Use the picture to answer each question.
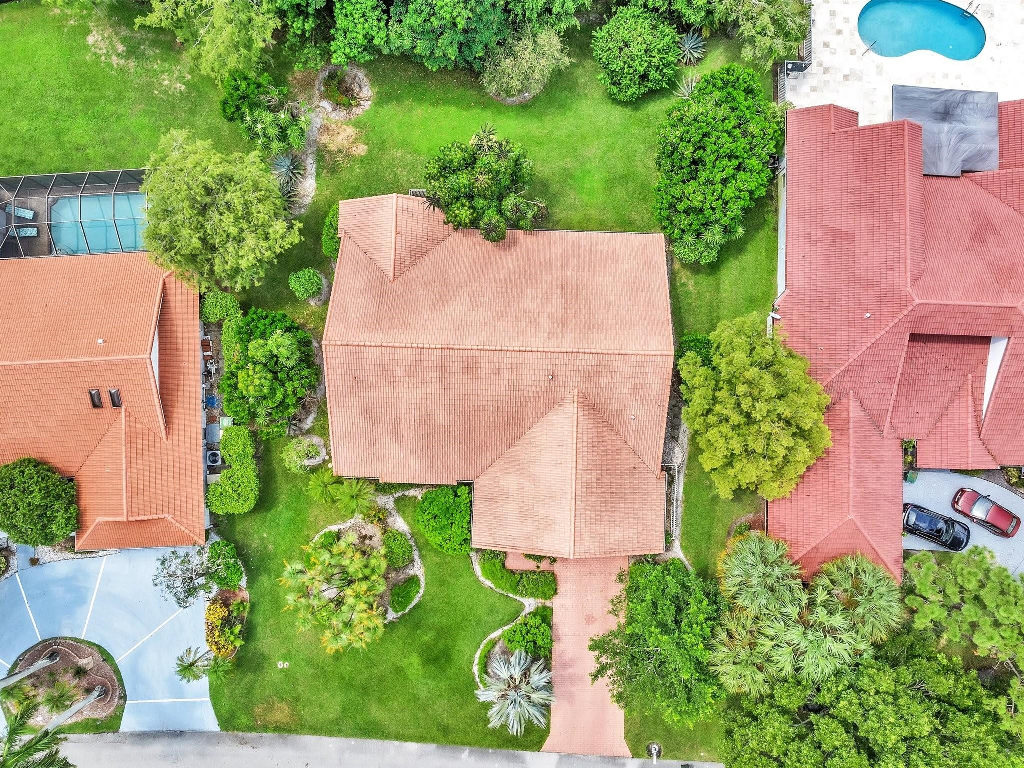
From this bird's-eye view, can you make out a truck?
No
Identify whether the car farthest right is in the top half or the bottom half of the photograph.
bottom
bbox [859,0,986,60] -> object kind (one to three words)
swimming pool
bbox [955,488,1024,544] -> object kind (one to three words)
car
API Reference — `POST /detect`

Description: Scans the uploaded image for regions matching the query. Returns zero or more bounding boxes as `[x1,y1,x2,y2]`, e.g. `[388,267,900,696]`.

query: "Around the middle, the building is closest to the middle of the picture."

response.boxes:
[319,192,677,561]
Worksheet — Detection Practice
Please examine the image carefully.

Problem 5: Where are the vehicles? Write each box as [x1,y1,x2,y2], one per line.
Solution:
[955,488,1024,544]
[903,501,981,554]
